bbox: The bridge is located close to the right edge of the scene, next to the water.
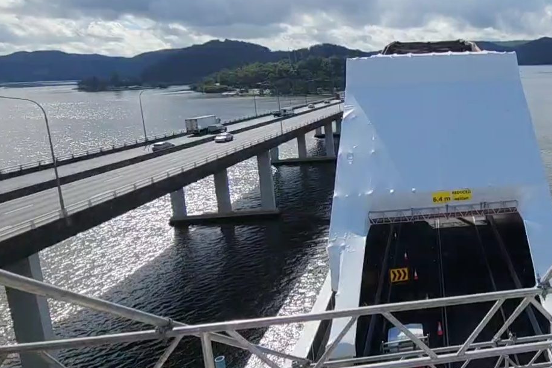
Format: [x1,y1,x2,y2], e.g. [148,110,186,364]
[367,218,552,368]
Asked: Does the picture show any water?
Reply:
Yes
